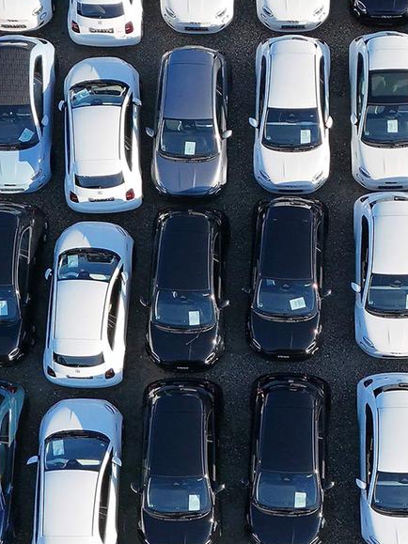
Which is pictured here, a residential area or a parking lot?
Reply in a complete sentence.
The picture captures a parking lot.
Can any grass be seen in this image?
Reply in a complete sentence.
No, grass can't be seen anywhere here.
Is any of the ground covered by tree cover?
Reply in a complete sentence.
No, the picture contains no tree cover.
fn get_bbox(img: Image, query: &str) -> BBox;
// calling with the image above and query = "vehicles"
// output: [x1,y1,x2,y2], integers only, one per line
[347,31,408,189]
[247,34,337,194]
[0,0,53,34]
[67,0,143,47]
[139,204,233,375]
[355,372,408,544]
[142,40,233,201]
[0,199,47,368]
[39,221,133,389]
[161,0,234,35]
[0,34,56,193]
[257,0,329,34]
[238,372,336,544]
[349,0,408,27]
[352,189,408,358]
[53,58,143,215]
[128,377,227,544]
[24,399,122,544]
[241,193,336,362]
[0,380,28,544]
